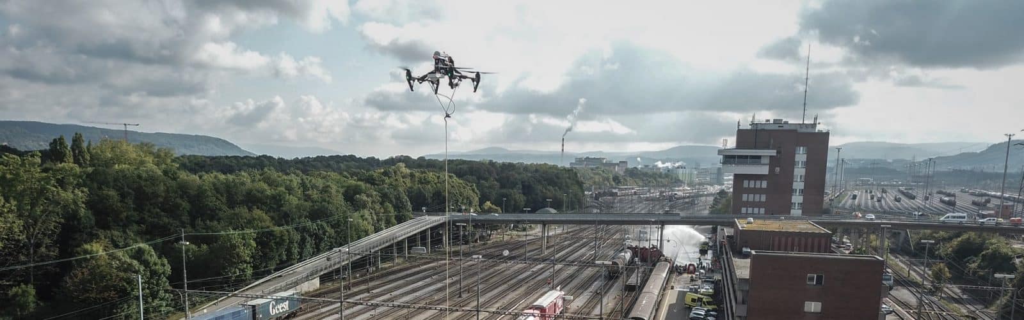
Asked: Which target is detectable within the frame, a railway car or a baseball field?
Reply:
railway car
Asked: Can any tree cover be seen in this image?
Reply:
Yes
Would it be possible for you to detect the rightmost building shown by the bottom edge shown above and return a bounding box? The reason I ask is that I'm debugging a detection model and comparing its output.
[718,219,889,320]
